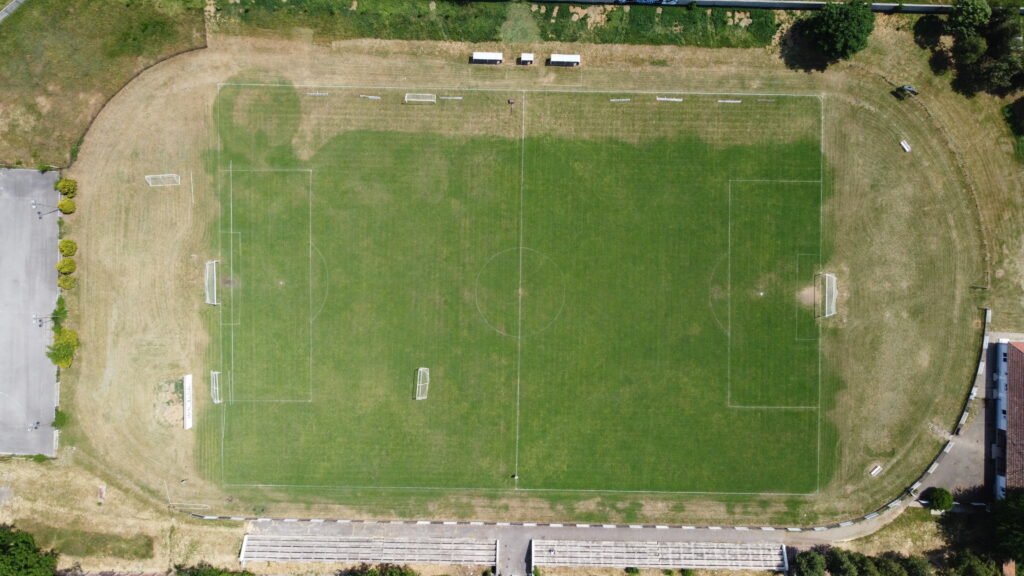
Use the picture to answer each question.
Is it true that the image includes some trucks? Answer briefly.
No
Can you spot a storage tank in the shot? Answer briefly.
No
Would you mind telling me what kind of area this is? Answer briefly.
sports ground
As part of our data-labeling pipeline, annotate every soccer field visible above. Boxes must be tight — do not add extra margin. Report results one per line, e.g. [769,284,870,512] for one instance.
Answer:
[216,83,833,497]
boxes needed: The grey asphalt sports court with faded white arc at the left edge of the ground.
[0,166,60,460]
